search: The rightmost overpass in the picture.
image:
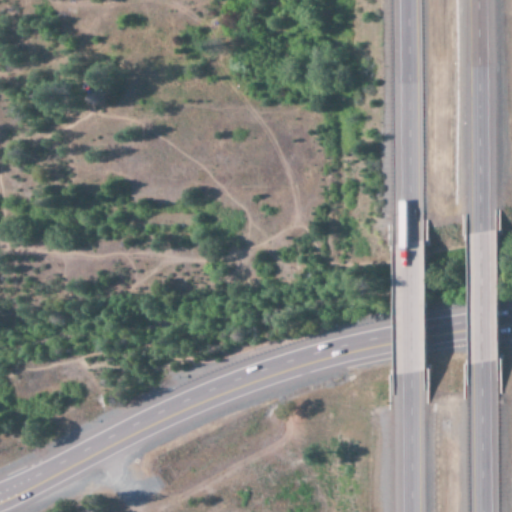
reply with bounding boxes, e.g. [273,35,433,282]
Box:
[463,208,505,400]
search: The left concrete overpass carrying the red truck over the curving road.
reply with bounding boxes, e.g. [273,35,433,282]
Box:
[389,219,433,410]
